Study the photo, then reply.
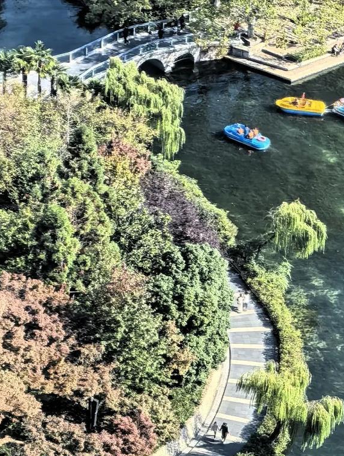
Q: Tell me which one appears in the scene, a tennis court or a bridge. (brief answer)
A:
bridge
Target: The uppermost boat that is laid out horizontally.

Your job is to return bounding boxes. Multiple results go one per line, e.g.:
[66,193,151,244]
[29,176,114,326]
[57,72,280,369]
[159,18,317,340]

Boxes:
[279,101,324,119]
